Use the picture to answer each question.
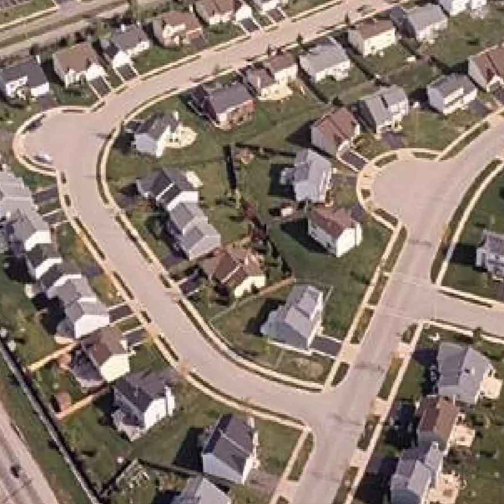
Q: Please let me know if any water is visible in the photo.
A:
No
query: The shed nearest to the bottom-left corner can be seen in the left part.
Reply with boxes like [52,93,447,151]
[50,388,73,411]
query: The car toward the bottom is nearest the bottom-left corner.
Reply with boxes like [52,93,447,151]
[9,461,24,481]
